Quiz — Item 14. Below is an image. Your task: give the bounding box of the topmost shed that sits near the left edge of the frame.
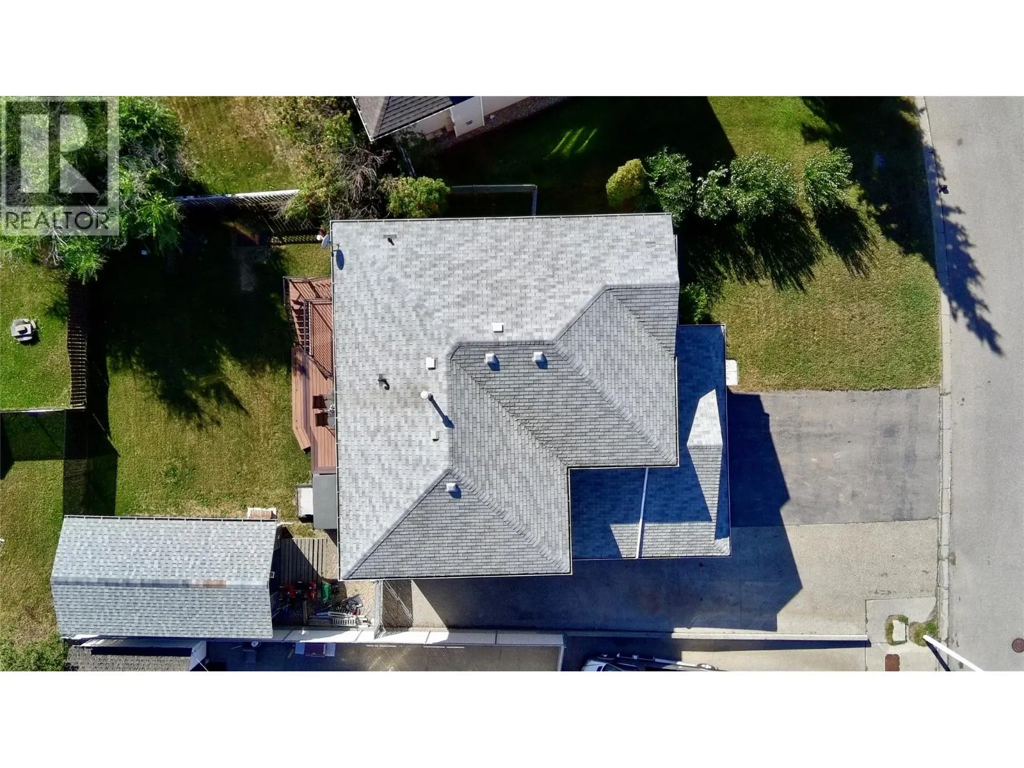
[51,515,286,637]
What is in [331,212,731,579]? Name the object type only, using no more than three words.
house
